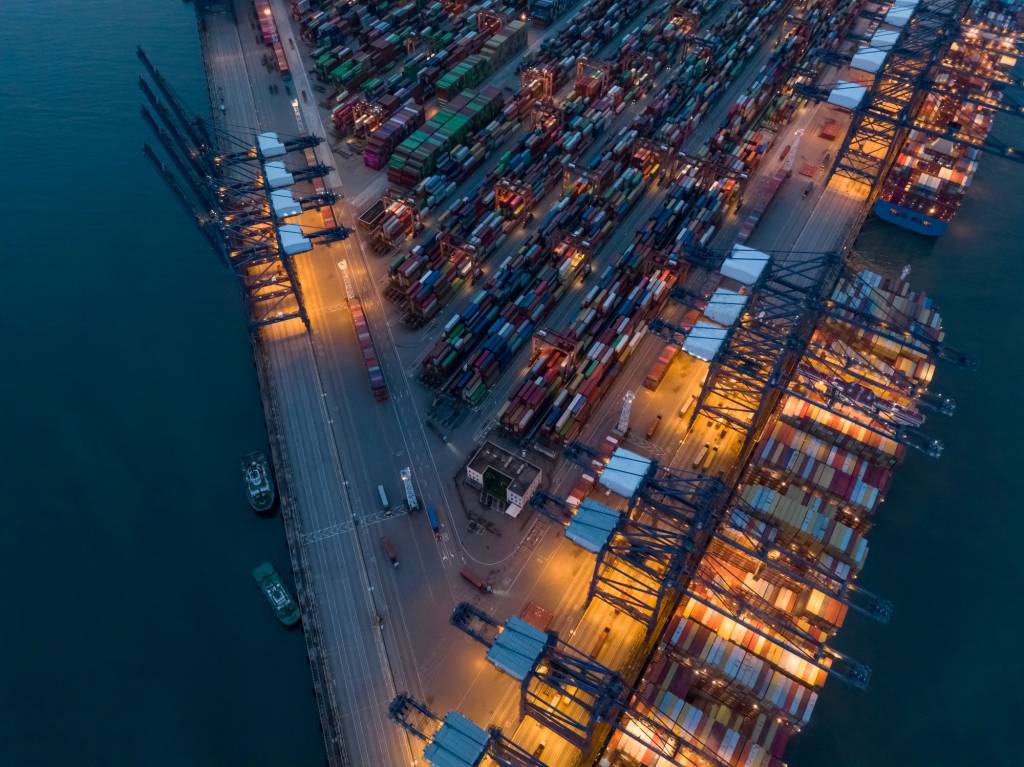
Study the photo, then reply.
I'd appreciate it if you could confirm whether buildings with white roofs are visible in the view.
No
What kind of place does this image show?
port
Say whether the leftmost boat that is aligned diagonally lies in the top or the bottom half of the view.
bottom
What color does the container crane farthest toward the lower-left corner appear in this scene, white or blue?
blue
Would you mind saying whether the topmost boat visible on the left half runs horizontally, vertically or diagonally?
vertically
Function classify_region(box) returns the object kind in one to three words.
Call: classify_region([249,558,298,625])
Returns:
boat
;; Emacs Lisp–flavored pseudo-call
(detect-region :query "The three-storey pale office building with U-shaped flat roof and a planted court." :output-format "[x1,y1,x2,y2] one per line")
[466,440,542,515]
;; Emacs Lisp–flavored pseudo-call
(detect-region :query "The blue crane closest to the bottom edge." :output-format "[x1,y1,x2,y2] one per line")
[382,688,535,767]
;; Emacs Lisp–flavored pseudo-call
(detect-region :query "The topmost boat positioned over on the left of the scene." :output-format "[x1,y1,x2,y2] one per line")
[240,448,272,511]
